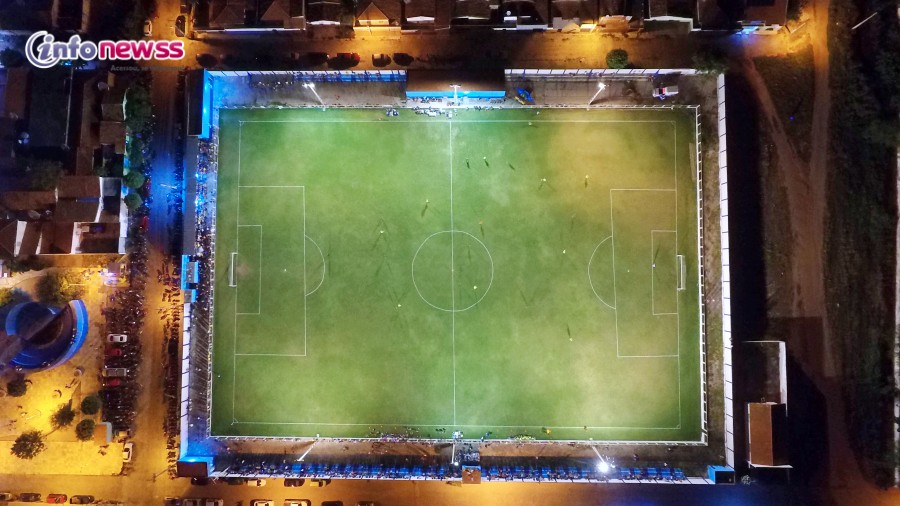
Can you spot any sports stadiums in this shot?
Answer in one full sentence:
Yes, I can see a sports stadium in this picture.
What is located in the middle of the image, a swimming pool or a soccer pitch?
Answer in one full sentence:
What appears in the middle of the image is a soccer pitch.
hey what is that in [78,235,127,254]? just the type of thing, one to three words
house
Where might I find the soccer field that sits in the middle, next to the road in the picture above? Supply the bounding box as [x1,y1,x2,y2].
[211,107,702,442]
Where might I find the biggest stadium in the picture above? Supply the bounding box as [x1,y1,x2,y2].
[178,68,737,485]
